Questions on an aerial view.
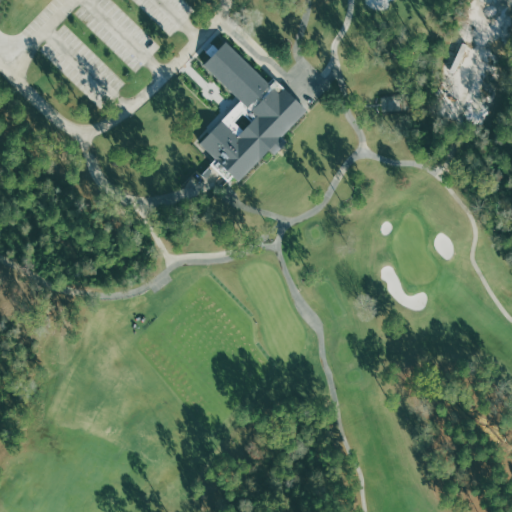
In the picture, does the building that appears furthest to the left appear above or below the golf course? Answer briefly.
above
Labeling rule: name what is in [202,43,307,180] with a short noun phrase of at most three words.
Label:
building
